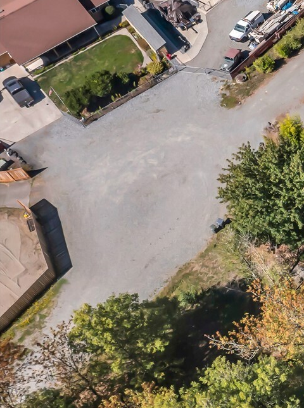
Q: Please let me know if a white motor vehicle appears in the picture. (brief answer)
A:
Yes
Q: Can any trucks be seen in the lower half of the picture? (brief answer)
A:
No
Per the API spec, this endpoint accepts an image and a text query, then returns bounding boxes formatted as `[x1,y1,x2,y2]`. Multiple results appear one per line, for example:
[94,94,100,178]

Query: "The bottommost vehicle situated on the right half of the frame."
[216,45,241,71]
